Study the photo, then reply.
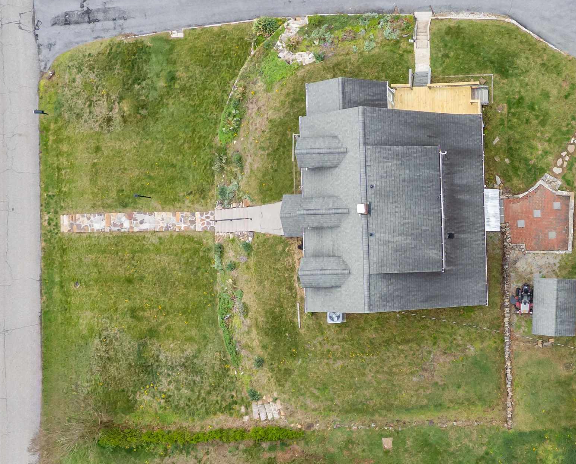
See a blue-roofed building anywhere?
No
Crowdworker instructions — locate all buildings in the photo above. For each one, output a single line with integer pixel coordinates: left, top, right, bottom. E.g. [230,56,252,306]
[279,77,501,315]
[532,278,576,337]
